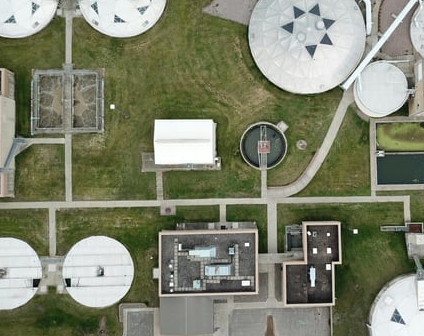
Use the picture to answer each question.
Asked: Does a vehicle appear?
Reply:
No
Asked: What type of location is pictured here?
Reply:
industrial area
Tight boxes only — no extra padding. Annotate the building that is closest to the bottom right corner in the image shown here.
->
[281,219,341,307]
